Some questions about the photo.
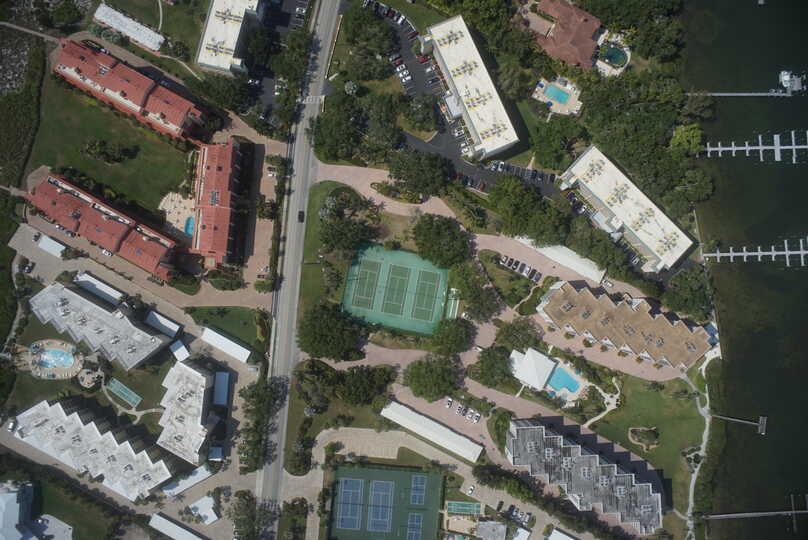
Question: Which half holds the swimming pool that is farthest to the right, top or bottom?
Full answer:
The swimming pool that is farthest to the right is in the top half of the image.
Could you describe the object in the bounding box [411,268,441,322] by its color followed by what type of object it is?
green tennis court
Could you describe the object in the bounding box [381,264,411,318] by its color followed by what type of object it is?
green tennis court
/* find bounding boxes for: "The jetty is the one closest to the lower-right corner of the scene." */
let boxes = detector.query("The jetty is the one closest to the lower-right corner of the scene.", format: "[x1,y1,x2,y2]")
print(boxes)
[699,493,808,533]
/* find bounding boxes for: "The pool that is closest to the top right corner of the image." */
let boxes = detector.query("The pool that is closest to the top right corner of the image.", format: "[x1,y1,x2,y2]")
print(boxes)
[599,40,627,66]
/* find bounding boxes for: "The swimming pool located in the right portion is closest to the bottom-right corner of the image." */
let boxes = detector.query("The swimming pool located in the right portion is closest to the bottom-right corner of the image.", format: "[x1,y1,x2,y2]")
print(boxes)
[545,361,590,403]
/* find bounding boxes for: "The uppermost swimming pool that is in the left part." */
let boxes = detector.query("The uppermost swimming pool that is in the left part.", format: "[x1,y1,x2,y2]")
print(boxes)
[159,192,196,250]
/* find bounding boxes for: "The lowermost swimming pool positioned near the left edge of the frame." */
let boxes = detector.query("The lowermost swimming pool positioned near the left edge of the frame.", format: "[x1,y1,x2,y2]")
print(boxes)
[30,339,83,380]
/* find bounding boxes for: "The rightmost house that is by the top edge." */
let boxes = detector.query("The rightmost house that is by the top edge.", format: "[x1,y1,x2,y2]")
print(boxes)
[533,0,602,71]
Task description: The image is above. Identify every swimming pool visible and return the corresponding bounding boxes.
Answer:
[30,339,83,380]
[545,361,590,403]
[159,192,196,250]
[599,40,627,66]
[532,77,583,114]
